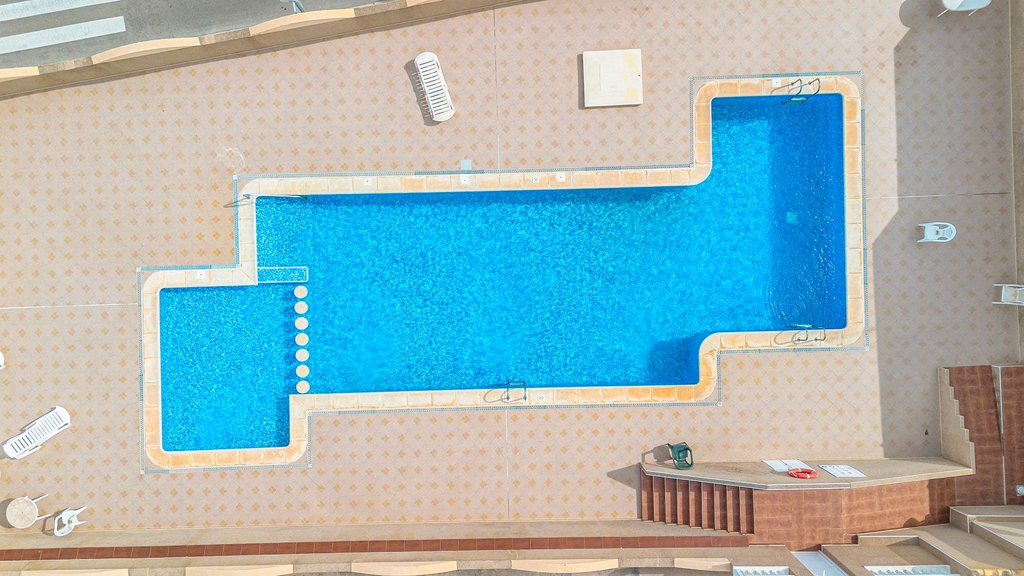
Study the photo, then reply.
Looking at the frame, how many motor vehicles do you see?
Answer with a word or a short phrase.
zero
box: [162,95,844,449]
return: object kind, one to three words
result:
swimming pool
